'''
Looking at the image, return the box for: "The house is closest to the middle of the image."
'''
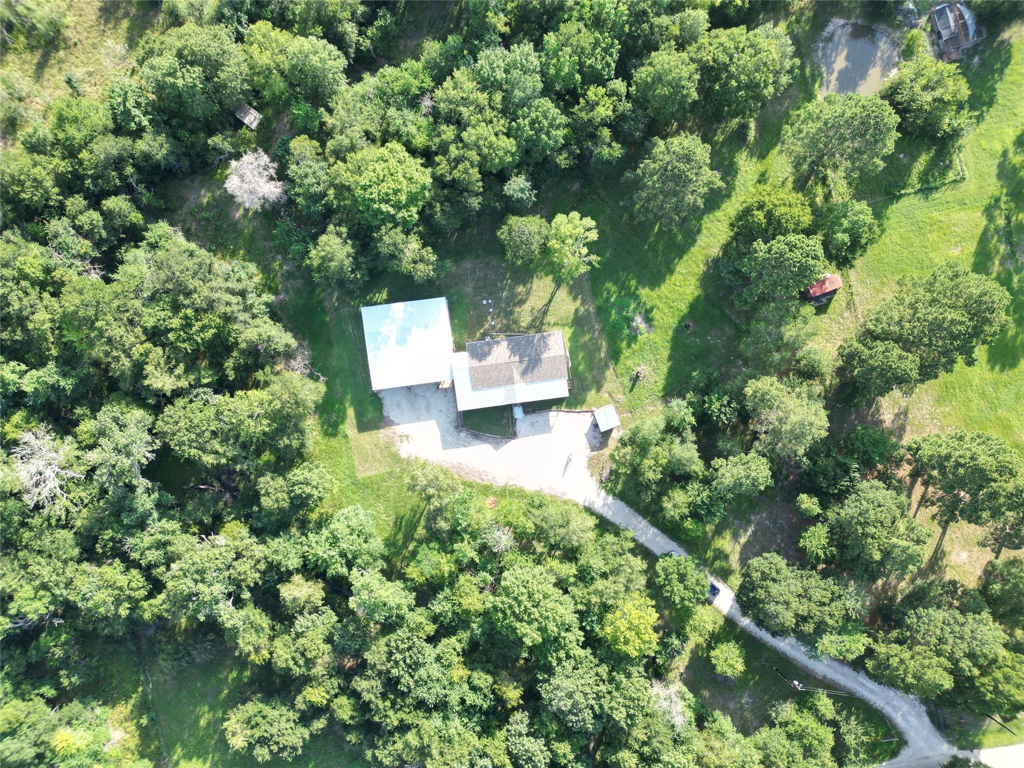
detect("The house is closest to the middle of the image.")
[452,331,569,411]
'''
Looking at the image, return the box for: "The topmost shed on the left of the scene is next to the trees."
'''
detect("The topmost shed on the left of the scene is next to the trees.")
[234,104,267,133]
